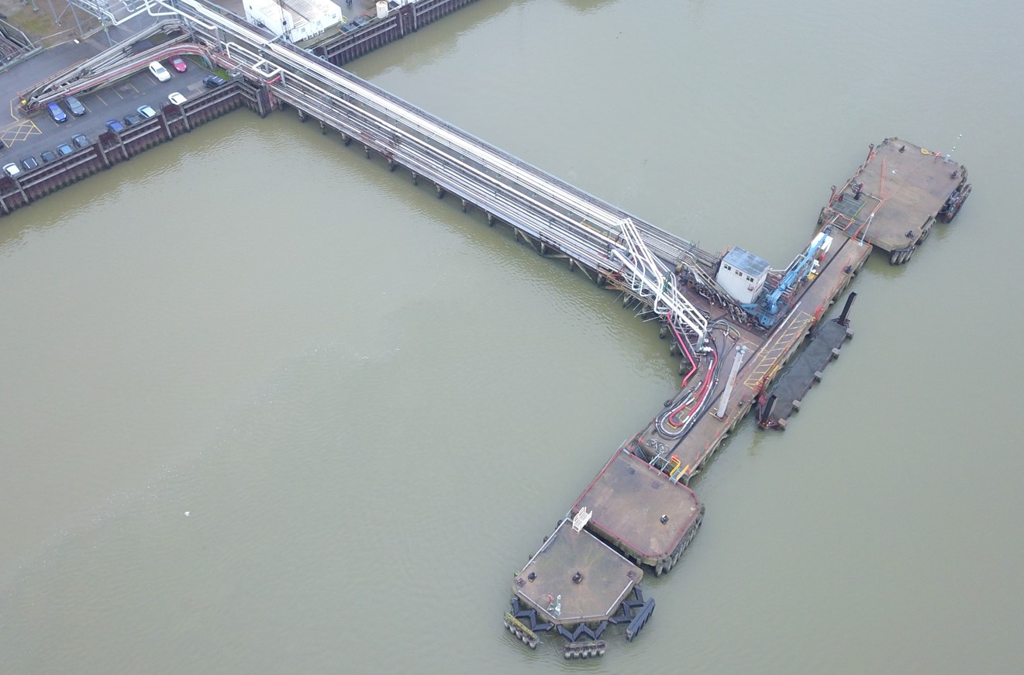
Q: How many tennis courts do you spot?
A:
0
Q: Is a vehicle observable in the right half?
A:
No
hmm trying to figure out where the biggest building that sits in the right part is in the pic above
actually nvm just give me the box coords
[717,246,772,302]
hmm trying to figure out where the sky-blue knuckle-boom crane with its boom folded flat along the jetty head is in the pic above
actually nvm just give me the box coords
[741,226,833,330]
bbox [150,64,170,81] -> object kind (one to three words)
car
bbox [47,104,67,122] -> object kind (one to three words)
car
